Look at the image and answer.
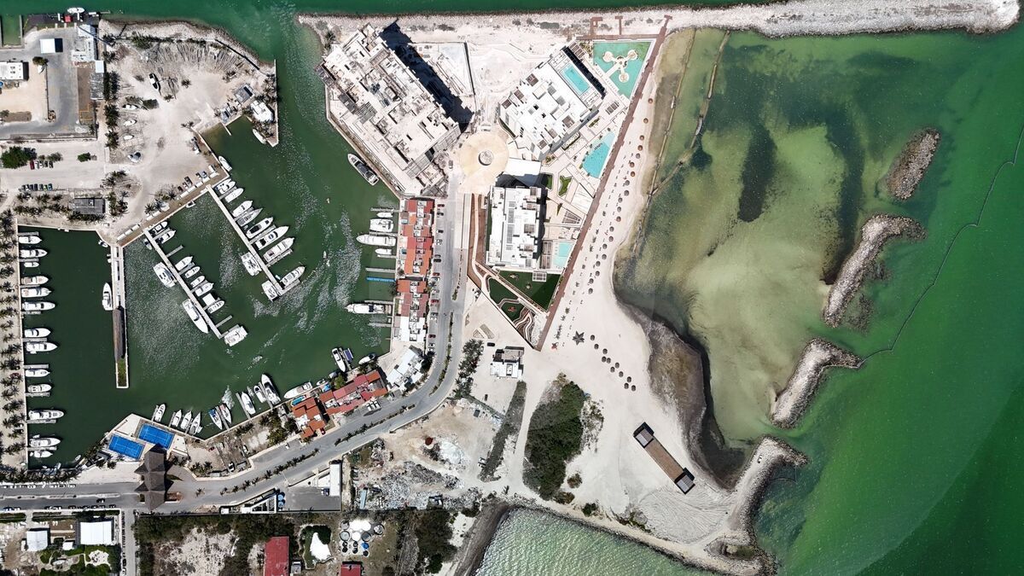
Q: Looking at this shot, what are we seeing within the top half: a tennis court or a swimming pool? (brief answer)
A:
swimming pool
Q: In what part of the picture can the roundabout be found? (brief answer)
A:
top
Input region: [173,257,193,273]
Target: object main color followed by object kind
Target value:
white boat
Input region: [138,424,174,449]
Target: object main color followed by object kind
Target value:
blue tennis court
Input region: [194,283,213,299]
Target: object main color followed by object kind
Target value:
white boat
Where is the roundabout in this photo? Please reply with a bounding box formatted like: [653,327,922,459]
[458,131,509,183]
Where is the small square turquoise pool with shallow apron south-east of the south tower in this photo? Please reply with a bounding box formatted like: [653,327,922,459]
[553,240,576,271]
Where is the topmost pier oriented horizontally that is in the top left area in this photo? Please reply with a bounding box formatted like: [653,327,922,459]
[24,11,111,38]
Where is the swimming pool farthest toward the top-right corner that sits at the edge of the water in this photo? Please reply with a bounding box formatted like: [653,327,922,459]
[593,40,655,99]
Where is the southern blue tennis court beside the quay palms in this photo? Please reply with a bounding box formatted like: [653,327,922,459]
[106,435,145,459]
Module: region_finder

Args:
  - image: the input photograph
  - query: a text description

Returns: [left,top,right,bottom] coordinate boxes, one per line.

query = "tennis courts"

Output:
[138,424,174,449]
[106,435,145,459]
